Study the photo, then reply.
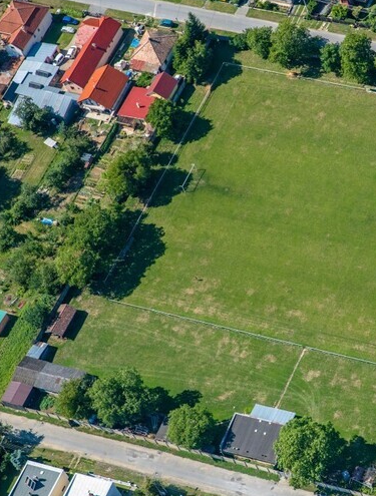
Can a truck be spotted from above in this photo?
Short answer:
No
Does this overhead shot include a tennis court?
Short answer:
No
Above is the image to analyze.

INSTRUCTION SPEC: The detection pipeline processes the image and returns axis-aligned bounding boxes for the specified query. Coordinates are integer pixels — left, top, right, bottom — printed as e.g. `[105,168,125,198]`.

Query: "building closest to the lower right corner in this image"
[220,413,288,468]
